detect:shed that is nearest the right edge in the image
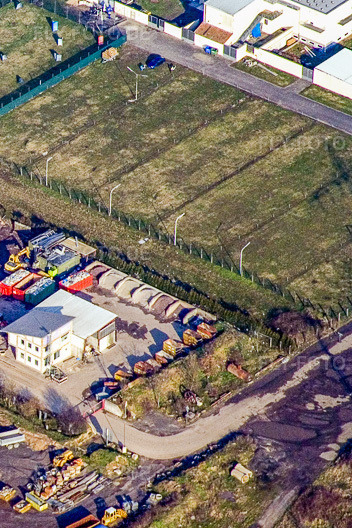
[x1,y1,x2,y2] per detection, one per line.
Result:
[314,47,352,99]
